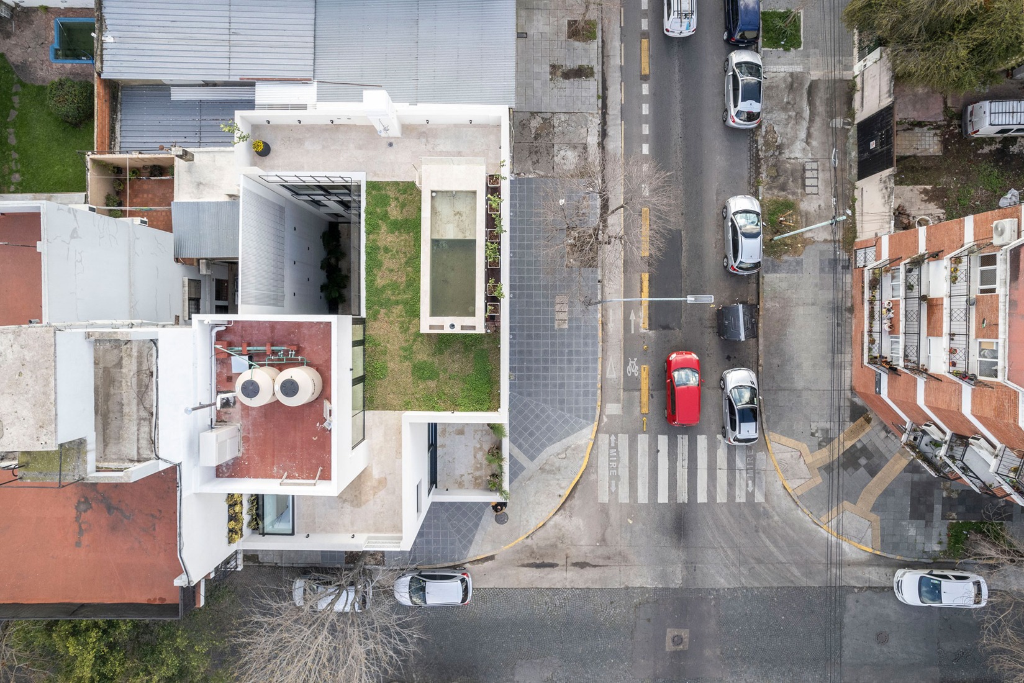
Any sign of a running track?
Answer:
No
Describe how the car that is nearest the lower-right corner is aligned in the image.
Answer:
from side to side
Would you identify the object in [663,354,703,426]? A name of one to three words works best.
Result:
car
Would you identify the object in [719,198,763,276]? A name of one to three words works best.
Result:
car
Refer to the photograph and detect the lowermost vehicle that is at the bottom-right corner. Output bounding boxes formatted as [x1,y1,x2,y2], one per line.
[893,565,986,612]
